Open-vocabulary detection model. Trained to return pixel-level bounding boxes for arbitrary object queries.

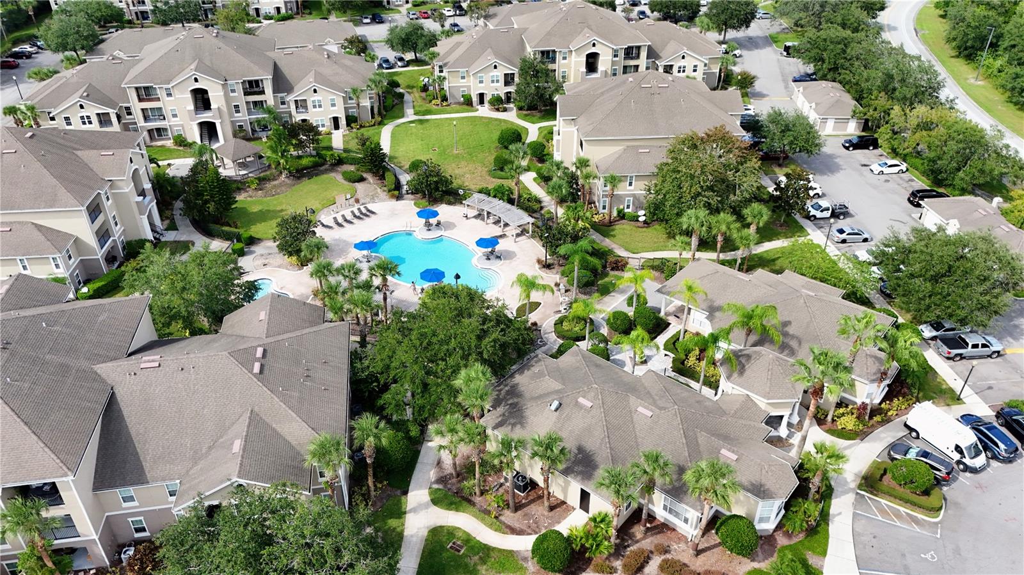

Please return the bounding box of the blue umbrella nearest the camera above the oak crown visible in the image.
[417,269,449,292]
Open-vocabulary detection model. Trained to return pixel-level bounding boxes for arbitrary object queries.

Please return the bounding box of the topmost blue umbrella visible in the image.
[414,210,440,224]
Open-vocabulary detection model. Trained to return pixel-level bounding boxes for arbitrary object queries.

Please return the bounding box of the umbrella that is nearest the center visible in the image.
[474,238,501,251]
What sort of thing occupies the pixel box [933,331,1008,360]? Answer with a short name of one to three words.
truck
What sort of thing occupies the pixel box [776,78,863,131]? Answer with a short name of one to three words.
building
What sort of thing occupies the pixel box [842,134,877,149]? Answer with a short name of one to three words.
car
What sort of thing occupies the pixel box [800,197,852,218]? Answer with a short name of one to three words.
truck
